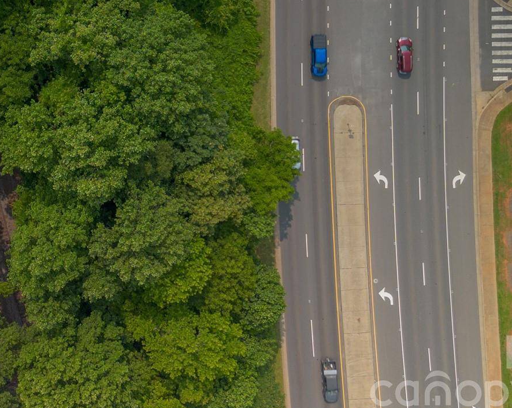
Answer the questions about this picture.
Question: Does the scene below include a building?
No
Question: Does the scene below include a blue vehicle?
Yes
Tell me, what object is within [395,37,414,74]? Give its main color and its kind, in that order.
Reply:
red car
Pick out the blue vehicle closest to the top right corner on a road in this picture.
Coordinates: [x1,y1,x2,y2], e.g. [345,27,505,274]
[310,34,328,77]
